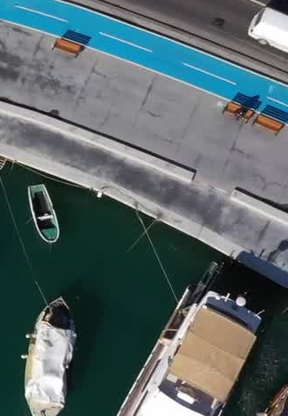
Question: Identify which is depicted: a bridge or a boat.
boat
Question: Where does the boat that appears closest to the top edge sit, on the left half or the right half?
left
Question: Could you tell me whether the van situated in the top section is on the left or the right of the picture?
right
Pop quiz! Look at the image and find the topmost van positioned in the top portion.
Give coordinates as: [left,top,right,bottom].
[253,7,288,54]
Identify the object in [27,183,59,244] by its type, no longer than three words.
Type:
boat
